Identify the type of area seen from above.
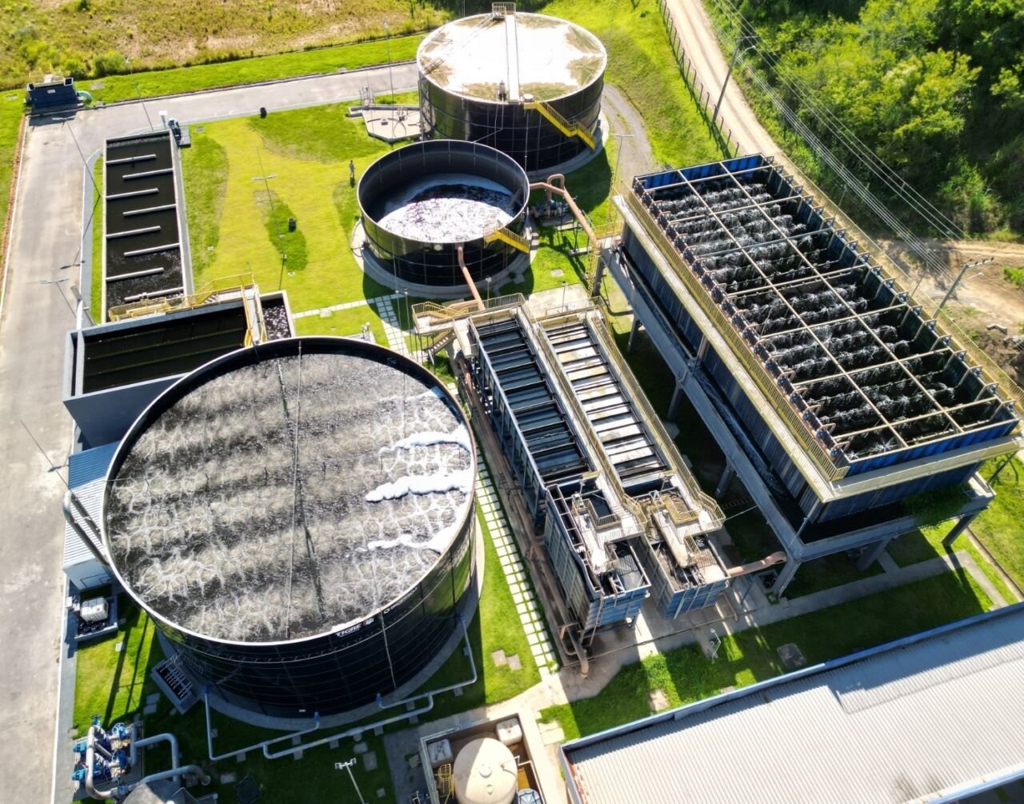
industrial area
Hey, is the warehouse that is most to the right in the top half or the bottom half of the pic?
bottom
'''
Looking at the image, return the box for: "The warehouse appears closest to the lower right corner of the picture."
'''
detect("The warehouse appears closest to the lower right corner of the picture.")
[553,601,1024,804]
